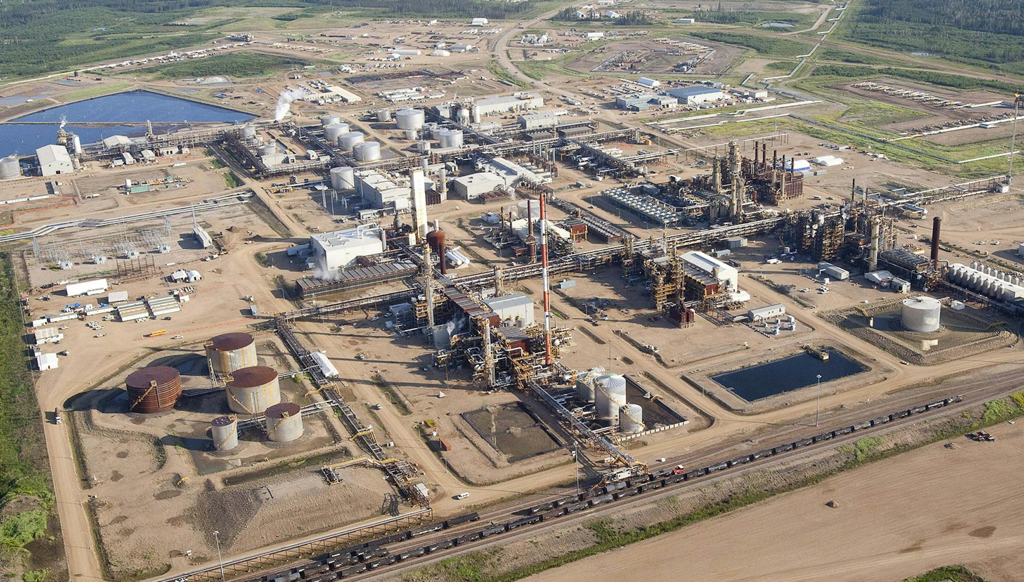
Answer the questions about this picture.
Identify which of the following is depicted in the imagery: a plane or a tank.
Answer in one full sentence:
There is a tank in the scene.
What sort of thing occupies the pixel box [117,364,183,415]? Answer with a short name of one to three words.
storage tank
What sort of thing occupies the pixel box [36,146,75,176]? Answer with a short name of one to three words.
building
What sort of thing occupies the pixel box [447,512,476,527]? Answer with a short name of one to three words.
rail car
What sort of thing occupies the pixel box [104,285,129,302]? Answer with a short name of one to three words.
shed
